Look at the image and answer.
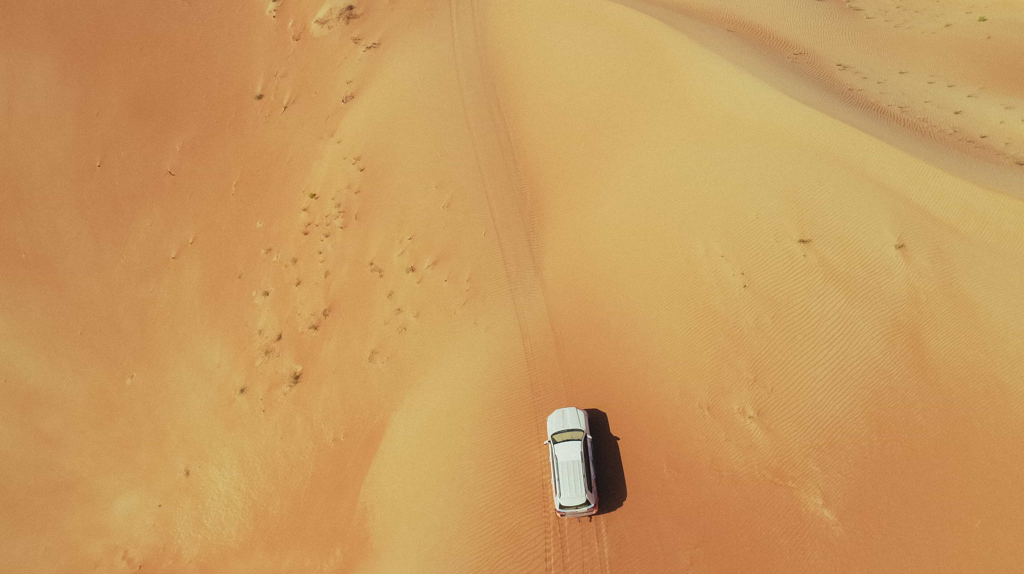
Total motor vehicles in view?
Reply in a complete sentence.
I count just 1 motor vehicle.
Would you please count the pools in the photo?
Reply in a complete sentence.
There are no pools in the image.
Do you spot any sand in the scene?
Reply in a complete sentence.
Yes, some sand is visible.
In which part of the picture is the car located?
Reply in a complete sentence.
The car sits in the bottom section of the image.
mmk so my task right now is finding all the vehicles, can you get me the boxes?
[542,406,598,522]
